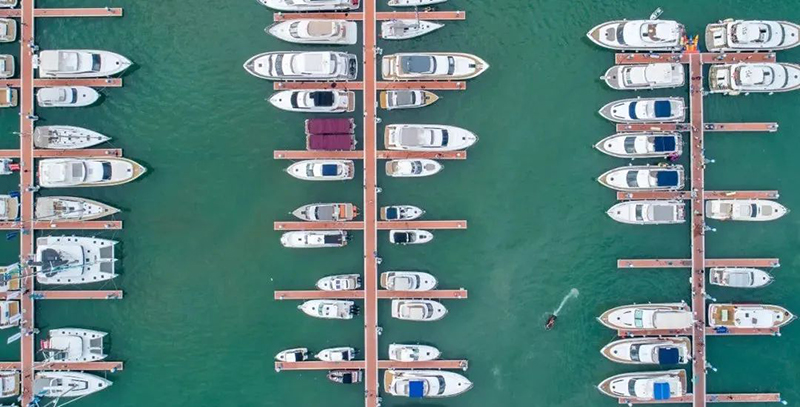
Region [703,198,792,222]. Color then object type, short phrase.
white boat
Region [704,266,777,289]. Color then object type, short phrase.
white boat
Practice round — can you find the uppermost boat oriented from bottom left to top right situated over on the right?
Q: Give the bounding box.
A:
[650,6,665,20]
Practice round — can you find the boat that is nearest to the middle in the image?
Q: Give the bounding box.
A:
[377,205,423,220]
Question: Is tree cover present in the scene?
No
